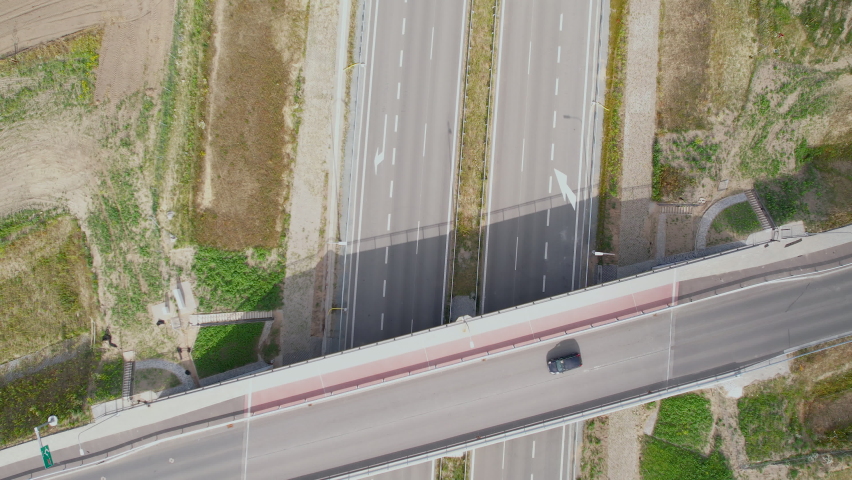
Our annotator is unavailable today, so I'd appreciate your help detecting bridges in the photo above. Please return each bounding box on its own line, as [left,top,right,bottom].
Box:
[240,266,678,480]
